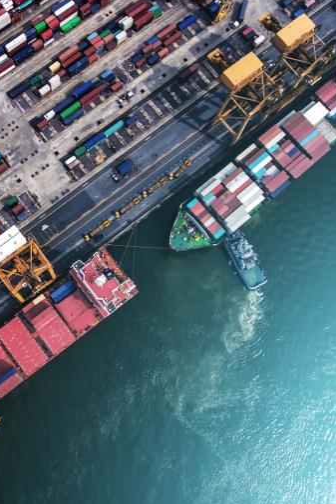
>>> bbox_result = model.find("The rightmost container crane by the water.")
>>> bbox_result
[255,13,336,111]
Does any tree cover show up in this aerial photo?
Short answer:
No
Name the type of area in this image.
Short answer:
port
